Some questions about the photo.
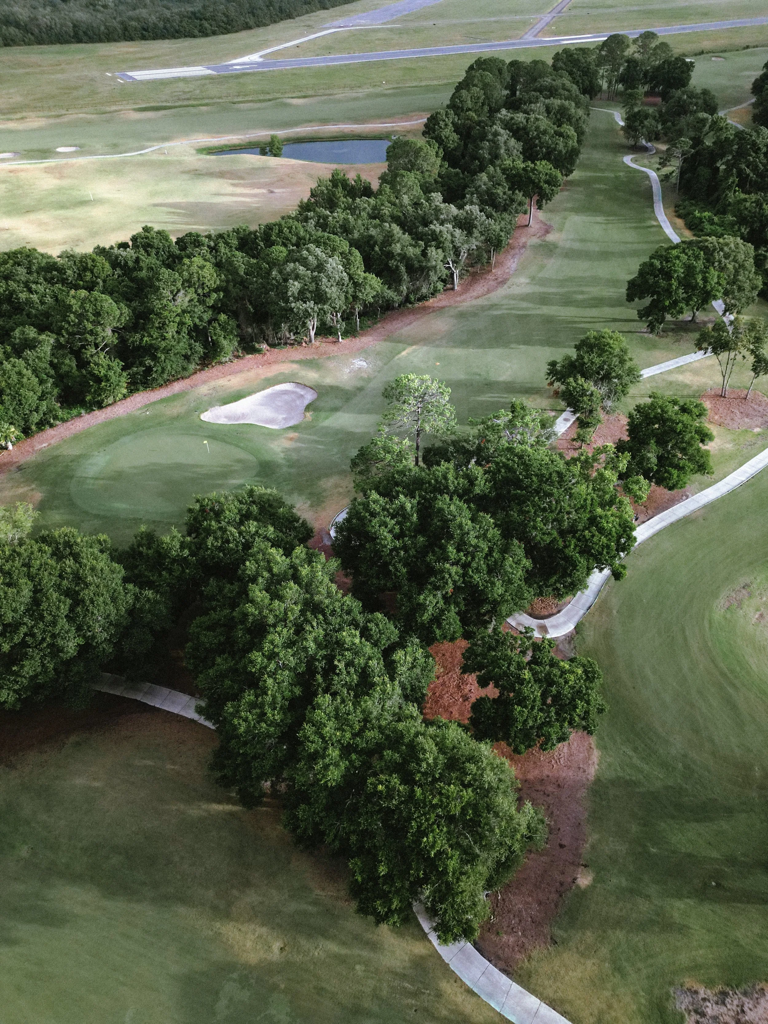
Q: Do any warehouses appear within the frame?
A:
No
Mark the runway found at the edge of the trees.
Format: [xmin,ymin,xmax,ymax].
[116,19,768,81]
